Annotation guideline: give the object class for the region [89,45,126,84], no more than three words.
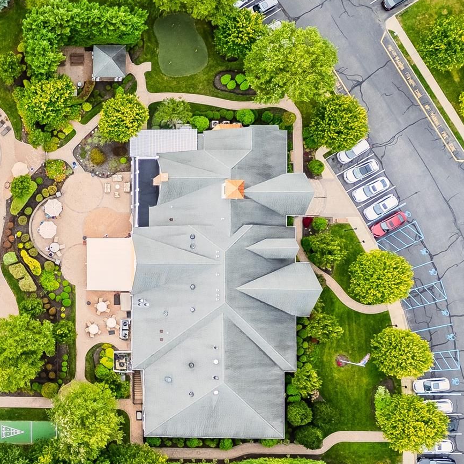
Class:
gazebo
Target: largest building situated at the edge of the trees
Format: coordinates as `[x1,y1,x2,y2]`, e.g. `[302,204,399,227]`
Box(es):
[85,124,324,438]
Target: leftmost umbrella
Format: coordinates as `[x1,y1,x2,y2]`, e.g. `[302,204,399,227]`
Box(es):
[12,161,28,177]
